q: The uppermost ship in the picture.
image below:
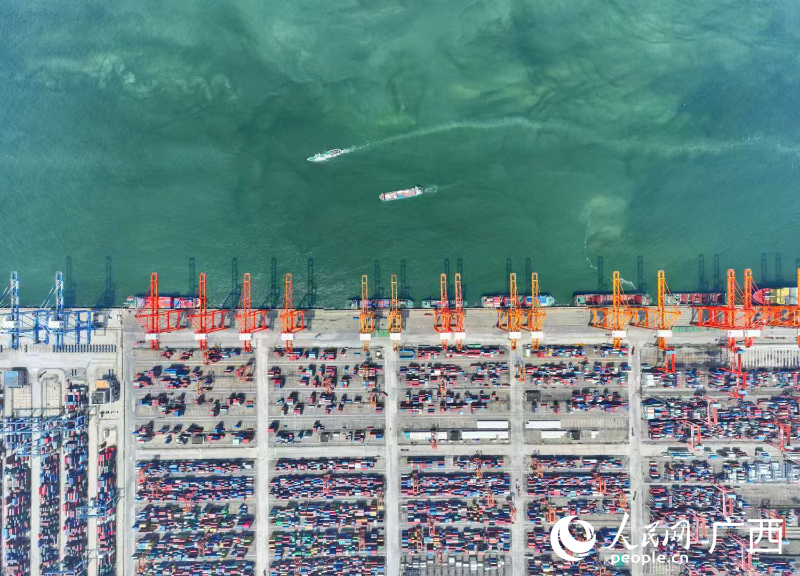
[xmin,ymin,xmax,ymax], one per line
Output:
[307,148,341,162]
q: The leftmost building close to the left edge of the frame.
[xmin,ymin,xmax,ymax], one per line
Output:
[4,370,25,385]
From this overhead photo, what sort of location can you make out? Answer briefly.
port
